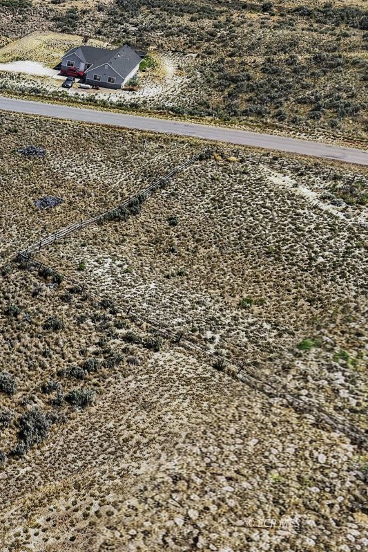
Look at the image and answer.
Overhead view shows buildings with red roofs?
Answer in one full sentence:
No, I can see no building with a red roof in this picture.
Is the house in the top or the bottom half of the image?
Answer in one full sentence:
You can find the house in the top half.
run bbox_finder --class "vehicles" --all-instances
[62,76,76,86]
[58,66,87,77]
